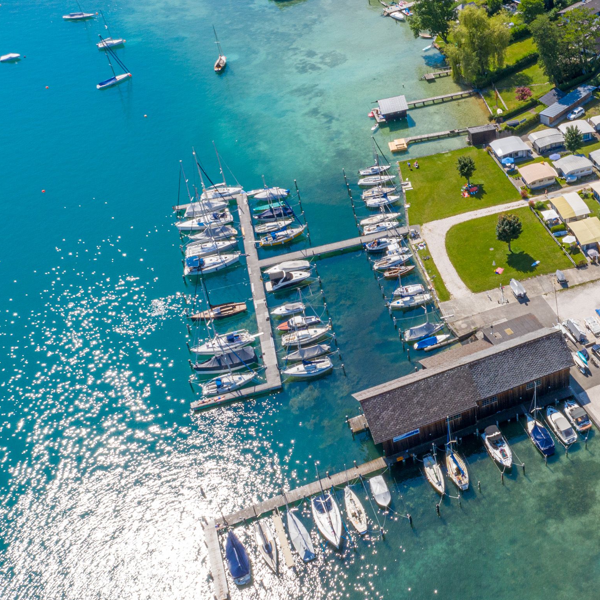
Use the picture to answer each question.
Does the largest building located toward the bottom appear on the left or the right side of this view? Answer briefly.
right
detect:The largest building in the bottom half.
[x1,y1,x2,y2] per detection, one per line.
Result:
[353,323,575,457]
